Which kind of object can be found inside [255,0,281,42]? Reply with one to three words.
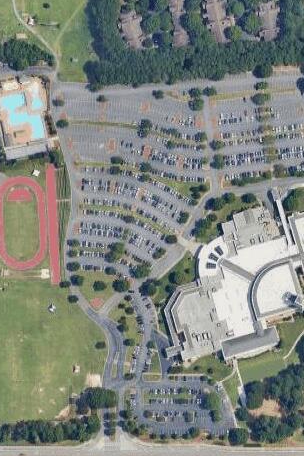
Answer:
building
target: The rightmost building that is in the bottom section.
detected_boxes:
[164,207,304,363]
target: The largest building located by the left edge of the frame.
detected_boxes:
[3,143,49,159]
